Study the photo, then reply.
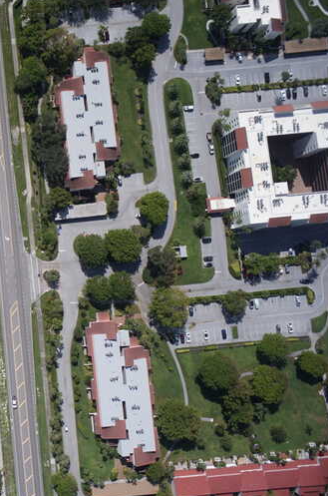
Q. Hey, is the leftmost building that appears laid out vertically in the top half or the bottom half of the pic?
top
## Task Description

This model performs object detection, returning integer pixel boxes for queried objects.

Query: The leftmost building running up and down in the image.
[51,47,121,192]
